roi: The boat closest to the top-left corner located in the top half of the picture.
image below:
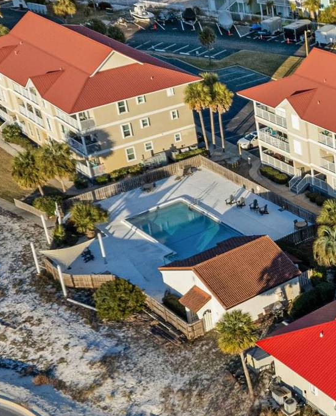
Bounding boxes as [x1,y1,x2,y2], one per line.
[123,3,153,22]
